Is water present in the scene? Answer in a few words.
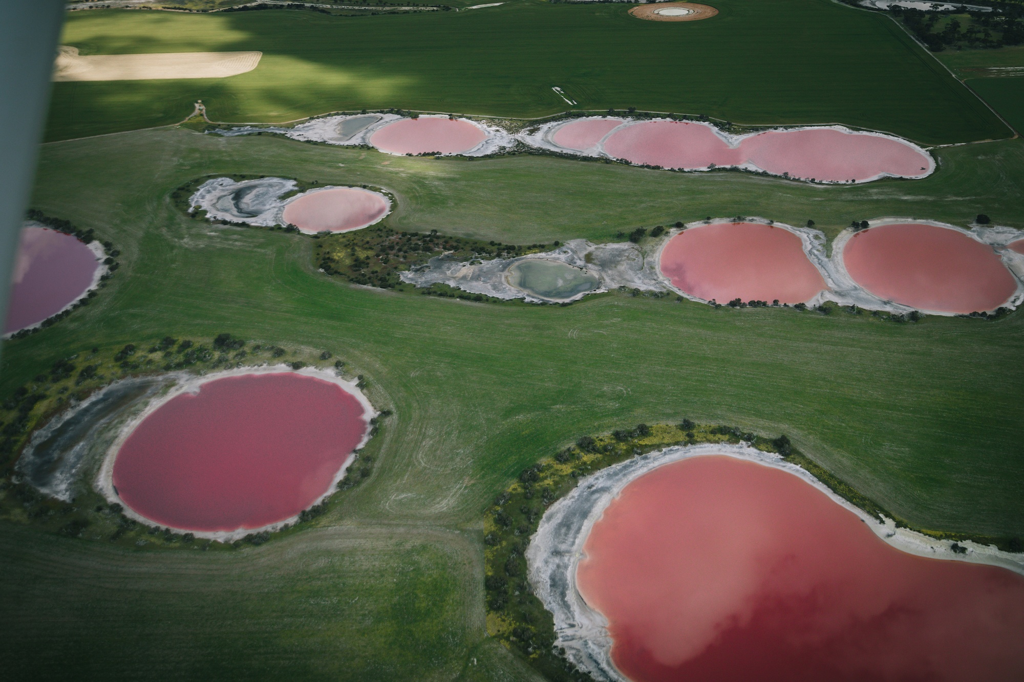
Yes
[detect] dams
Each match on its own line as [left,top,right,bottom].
[626,0,719,23]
